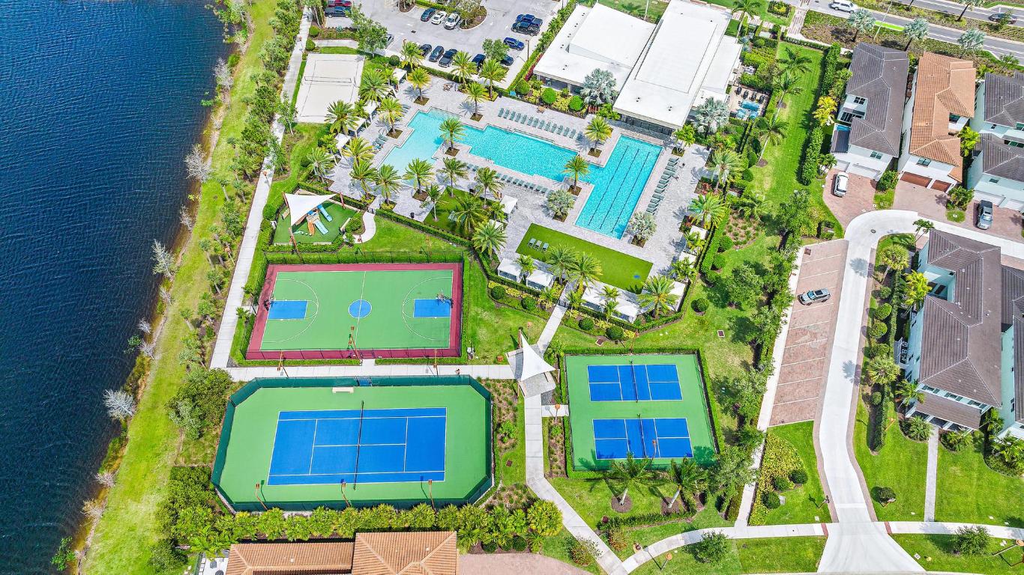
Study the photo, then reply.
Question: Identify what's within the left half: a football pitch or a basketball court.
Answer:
basketball court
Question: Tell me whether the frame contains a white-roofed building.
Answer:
Yes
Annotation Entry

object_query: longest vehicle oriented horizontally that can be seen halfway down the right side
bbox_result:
[798,287,831,305]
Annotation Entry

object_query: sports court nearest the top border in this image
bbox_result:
[295,53,365,122]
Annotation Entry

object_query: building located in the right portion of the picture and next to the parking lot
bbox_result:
[534,0,742,143]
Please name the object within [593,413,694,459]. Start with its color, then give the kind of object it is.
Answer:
blue sports court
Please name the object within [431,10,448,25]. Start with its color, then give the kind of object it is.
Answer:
white car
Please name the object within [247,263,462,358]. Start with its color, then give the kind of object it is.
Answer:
green basketball court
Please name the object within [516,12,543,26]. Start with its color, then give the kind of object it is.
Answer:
blue vehicle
